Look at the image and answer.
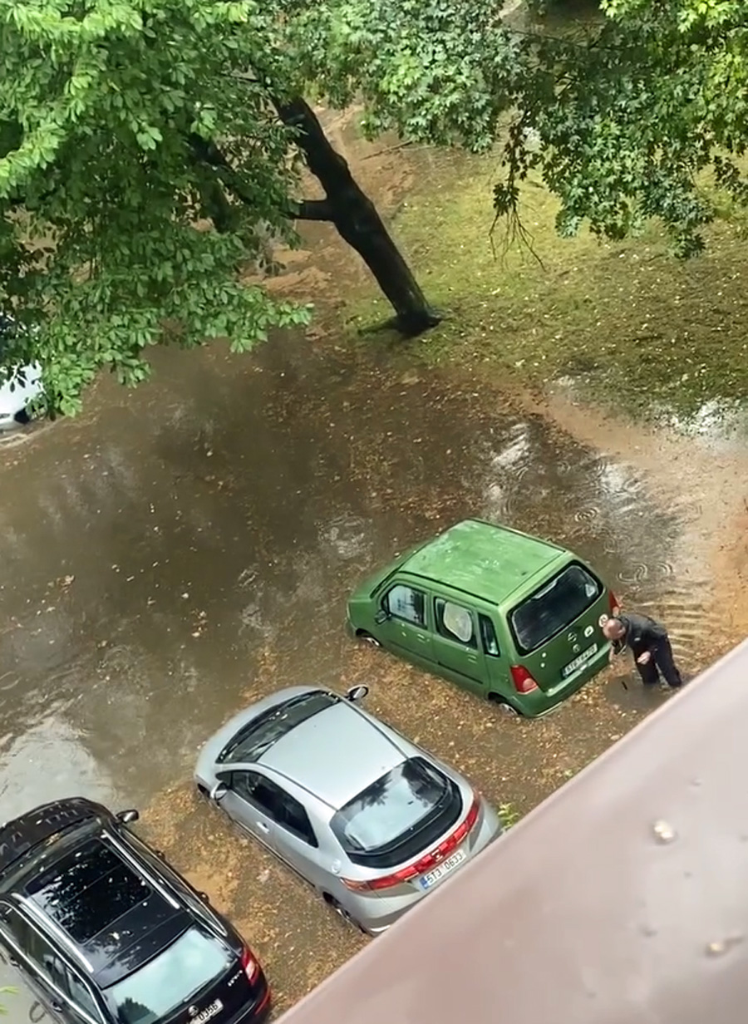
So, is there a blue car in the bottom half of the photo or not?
No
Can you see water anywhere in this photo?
Yes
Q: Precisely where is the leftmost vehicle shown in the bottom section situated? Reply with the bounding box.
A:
[0,807,274,1024]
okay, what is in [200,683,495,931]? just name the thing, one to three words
car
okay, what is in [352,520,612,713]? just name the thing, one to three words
car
